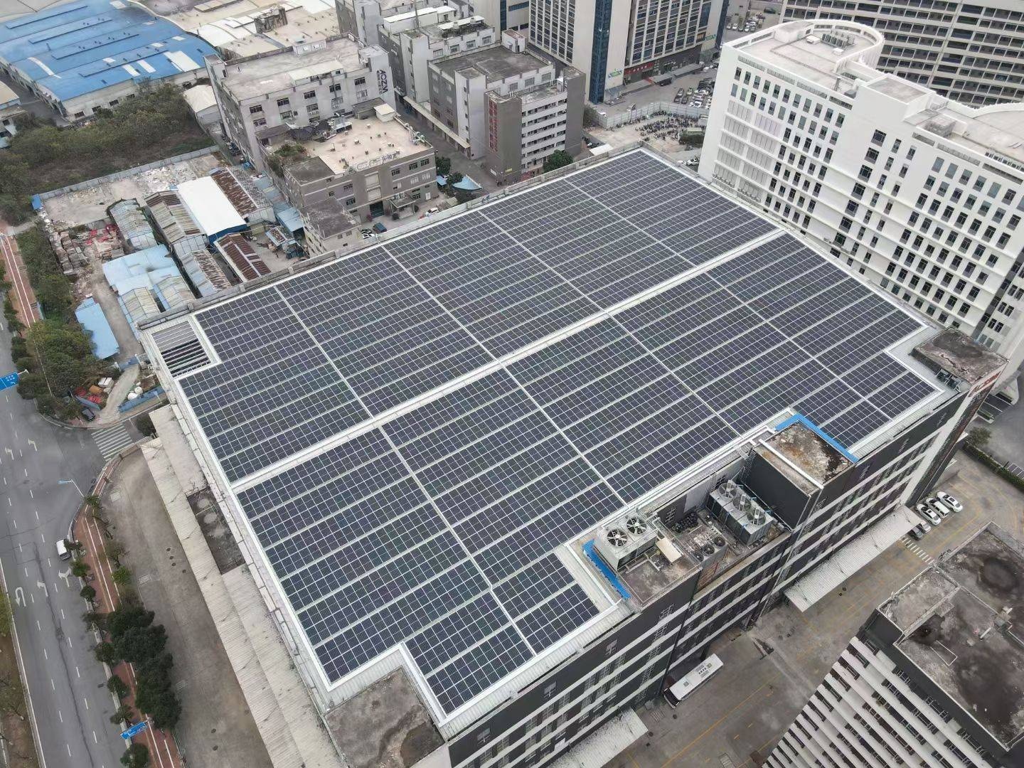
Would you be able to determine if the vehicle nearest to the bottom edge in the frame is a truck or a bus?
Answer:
bus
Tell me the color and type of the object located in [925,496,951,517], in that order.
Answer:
white car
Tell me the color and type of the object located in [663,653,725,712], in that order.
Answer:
white bus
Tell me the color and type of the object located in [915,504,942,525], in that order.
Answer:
white car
